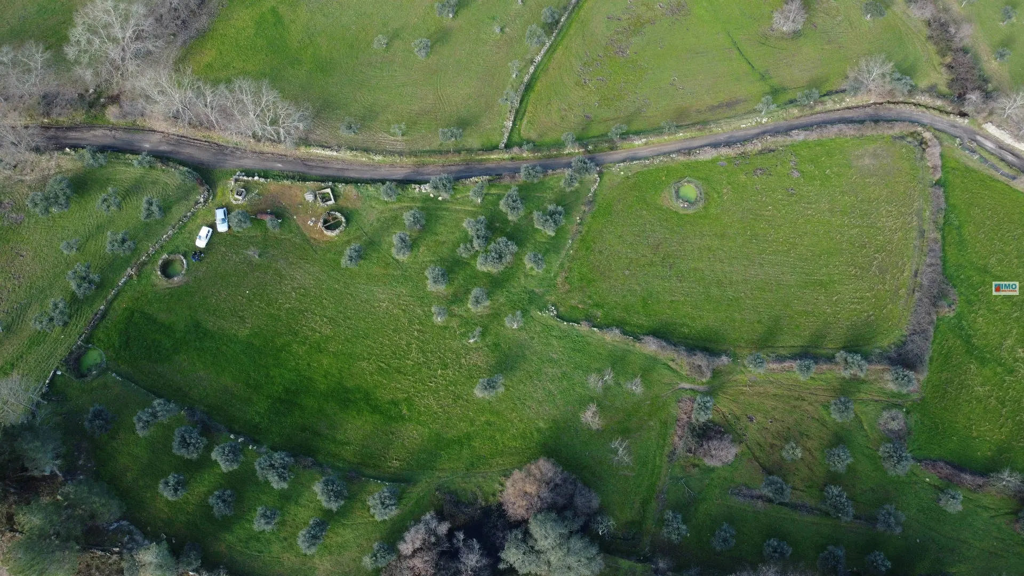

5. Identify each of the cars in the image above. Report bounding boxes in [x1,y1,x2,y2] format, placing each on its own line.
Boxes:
[196,226,213,248]
[216,207,229,232]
